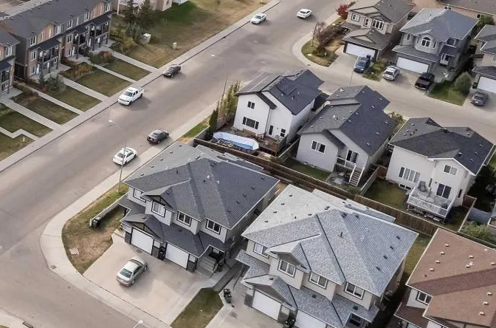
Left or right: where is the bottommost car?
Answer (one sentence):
The bottommost car sits on the left side.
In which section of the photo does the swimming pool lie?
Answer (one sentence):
You can find the swimming pool in the center area of the picture.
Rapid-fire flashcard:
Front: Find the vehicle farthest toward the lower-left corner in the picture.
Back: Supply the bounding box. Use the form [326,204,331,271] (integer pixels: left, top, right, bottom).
[113,253,151,285]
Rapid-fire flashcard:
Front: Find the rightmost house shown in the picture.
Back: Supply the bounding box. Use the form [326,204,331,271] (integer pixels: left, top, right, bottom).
[465,22,496,94]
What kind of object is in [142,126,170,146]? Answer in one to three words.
car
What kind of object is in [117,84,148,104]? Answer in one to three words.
vehicle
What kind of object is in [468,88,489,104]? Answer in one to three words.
car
